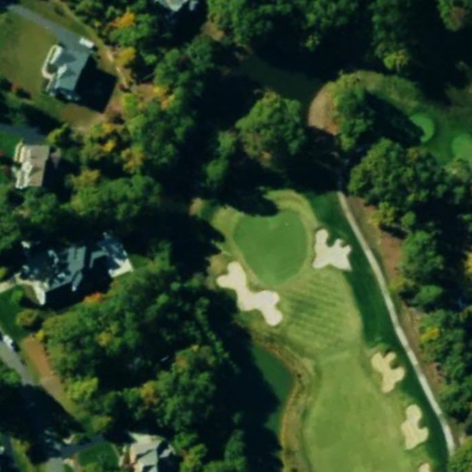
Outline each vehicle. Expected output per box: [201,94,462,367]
[81,38,95,48]
[4,333,14,344]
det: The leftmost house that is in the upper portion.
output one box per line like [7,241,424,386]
[16,142,52,184]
